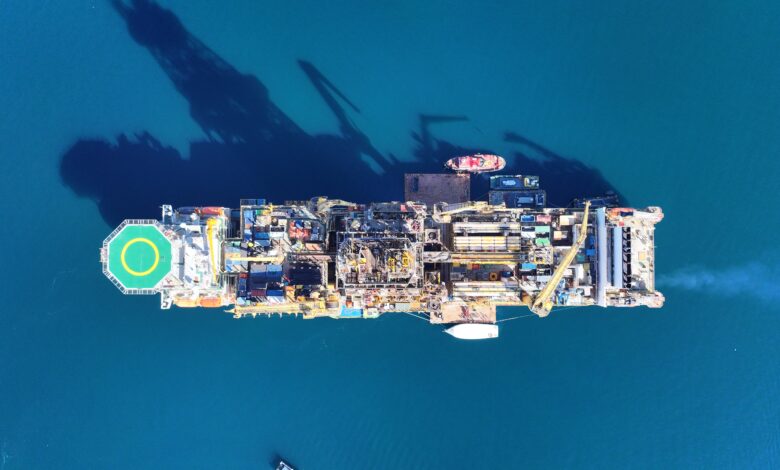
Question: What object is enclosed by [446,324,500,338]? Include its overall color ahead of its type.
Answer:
white boat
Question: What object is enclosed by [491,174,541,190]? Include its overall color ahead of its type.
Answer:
blue boat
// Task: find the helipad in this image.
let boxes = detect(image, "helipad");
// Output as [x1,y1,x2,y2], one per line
[100,218,187,295]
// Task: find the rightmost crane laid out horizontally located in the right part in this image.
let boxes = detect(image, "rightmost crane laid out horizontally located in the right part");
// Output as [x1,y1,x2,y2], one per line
[475,200,599,214]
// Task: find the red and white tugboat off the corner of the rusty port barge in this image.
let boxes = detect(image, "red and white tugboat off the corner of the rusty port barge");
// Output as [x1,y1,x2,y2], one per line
[446,152,507,174]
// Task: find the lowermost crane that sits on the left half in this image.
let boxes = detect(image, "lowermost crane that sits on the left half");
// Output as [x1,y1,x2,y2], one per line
[229,290,340,315]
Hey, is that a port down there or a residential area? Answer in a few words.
port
